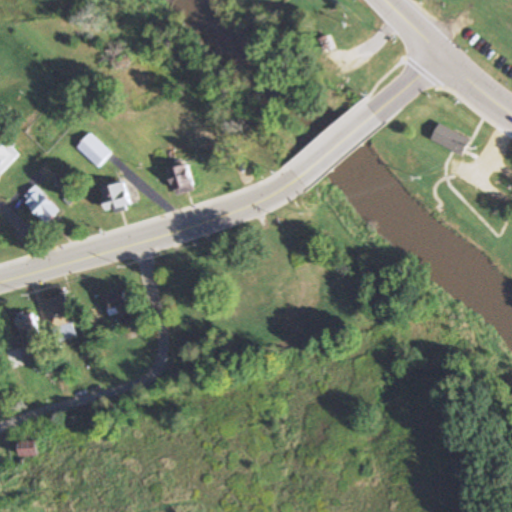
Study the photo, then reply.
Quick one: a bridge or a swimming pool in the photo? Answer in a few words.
bridge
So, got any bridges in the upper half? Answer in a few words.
Yes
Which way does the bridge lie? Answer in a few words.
diagonally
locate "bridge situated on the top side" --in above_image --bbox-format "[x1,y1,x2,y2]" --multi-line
[284,98,384,195]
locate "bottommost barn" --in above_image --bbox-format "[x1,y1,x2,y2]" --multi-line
[16,439,39,454]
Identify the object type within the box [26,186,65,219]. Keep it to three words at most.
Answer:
house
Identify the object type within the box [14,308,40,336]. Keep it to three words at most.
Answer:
house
